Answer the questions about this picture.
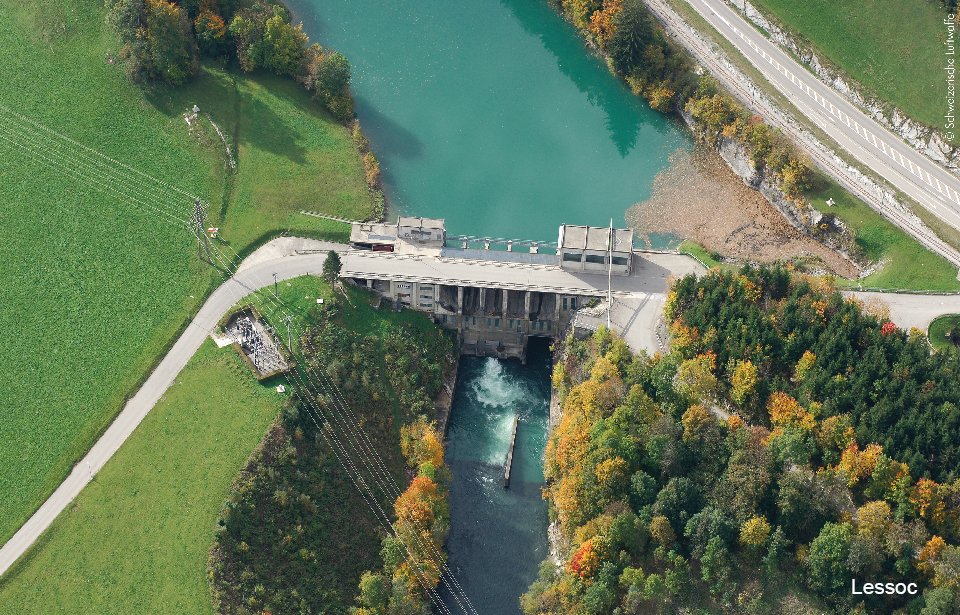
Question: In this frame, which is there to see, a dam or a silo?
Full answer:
This aerial view contains a dam.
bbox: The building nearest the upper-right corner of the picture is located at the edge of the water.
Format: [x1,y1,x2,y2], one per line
[559,223,634,276]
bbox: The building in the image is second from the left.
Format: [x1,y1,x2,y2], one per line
[398,217,448,248]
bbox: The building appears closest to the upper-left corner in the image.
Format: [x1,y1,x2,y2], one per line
[350,225,399,252]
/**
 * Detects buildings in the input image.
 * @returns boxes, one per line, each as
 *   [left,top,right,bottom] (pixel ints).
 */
[398,217,448,248]
[559,223,634,276]
[350,225,399,252]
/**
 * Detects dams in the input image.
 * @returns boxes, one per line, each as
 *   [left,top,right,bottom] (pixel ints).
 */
[335,230,634,368]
